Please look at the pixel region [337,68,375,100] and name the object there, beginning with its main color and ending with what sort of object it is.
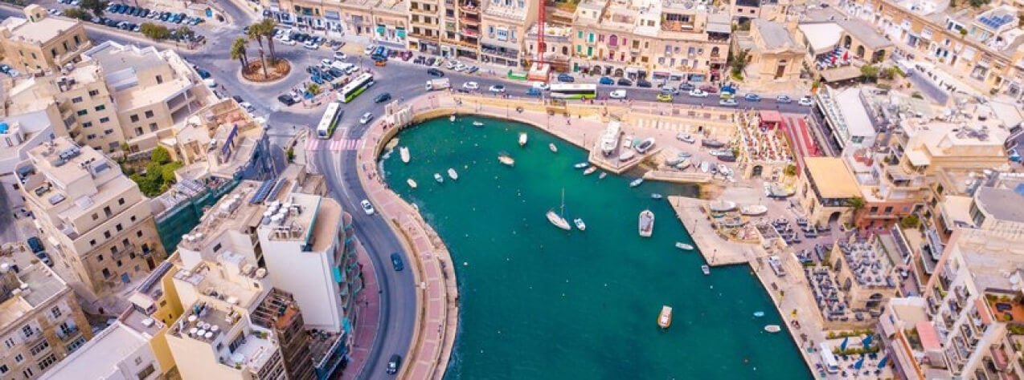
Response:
white bus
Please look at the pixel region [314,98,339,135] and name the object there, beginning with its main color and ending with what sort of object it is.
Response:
white bus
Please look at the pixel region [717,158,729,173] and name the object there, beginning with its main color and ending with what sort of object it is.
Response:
white boat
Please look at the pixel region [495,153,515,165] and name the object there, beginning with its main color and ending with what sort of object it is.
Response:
white boat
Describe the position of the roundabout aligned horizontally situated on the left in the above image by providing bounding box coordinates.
[237,59,294,85]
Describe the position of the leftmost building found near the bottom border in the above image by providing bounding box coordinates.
[0,239,90,379]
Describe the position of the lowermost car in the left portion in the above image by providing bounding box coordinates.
[386,352,401,376]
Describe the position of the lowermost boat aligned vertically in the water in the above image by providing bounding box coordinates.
[658,300,673,332]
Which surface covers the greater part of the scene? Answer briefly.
buildings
